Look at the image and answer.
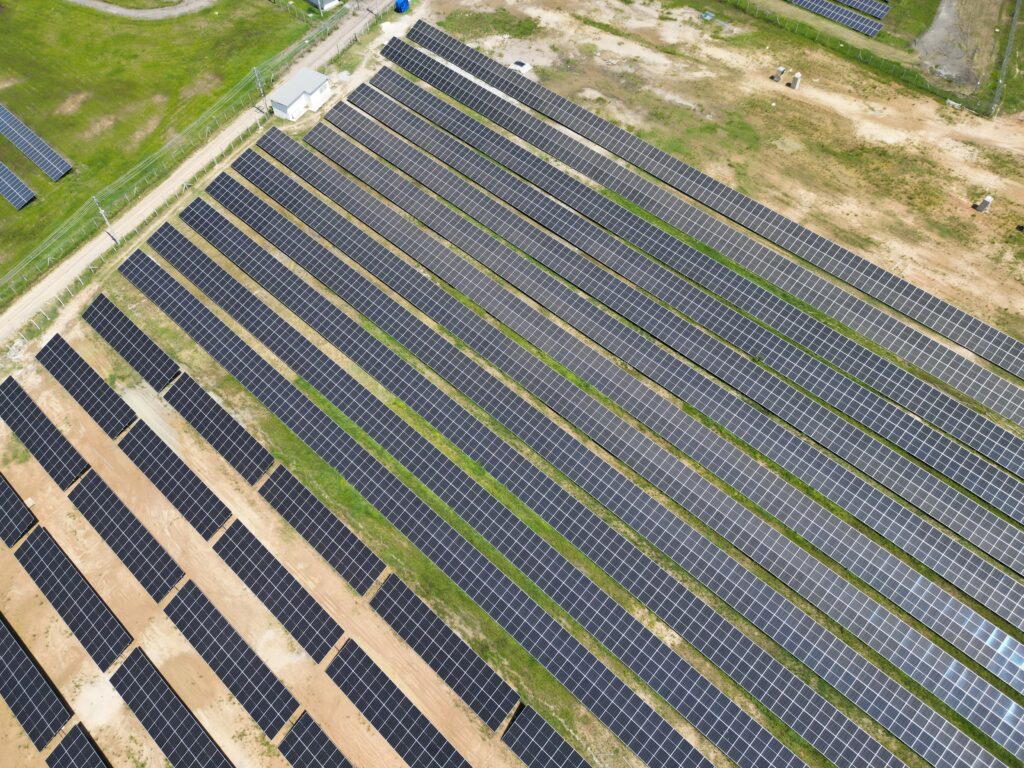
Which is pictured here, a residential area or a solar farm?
solar farm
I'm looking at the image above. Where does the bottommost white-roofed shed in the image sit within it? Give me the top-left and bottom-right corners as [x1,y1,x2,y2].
[269,67,332,121]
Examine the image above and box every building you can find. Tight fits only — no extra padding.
[298,0,347,21]
[269,67,332,121]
